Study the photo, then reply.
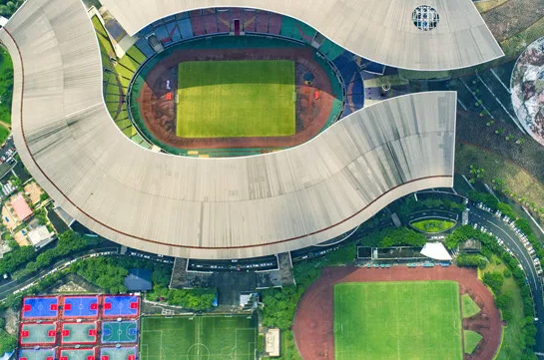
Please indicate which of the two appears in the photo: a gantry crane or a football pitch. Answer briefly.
football pitch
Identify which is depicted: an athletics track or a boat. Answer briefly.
athletics track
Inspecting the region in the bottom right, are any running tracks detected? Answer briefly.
Yes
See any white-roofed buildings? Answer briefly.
Yes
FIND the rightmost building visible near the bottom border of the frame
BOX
[265,326,280,356]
